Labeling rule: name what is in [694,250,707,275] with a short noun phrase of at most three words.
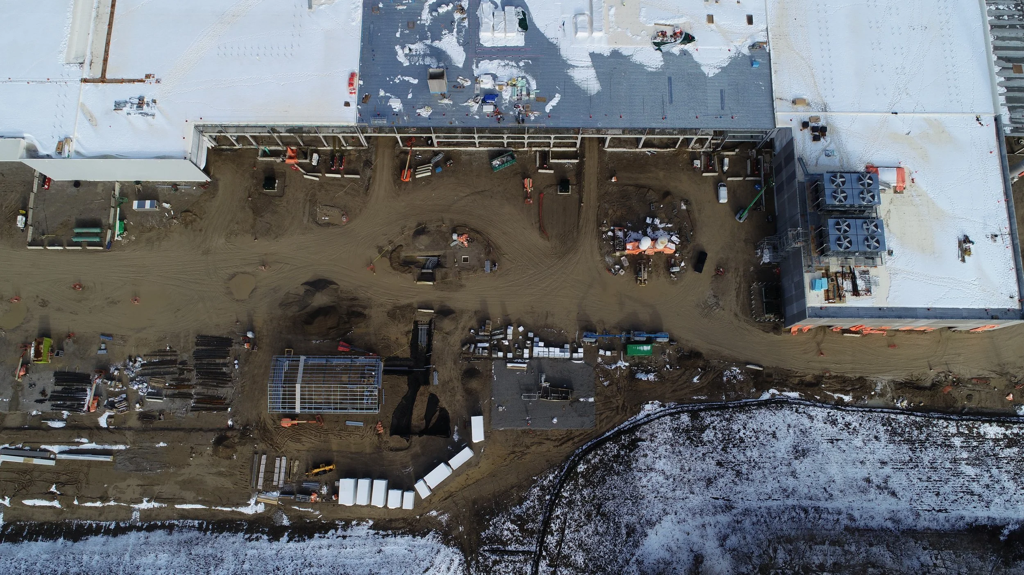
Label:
vehicle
